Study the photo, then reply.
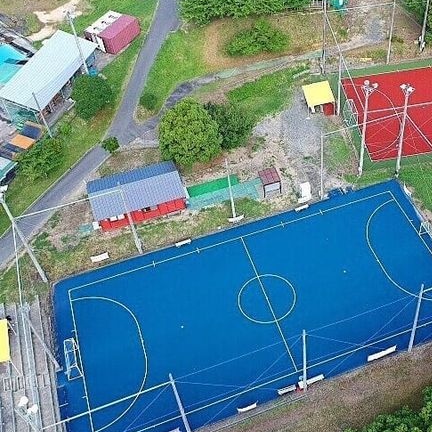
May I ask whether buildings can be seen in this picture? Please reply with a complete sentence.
Yes, I can see a building in this picture.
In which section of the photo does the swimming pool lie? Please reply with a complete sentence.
Look in the top left portion of the view to spot the swimming pool.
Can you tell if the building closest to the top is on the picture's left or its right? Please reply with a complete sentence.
It is on the left.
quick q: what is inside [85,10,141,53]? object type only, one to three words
building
